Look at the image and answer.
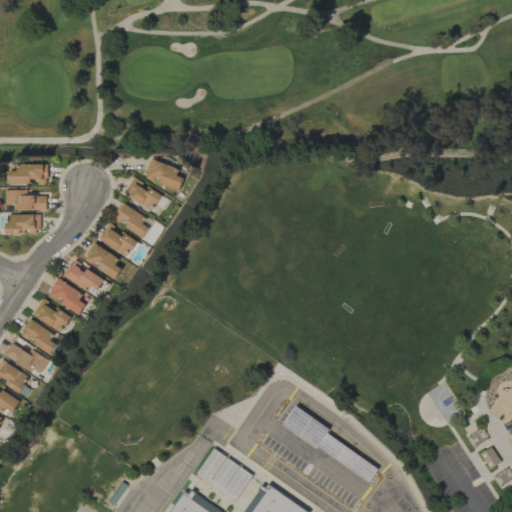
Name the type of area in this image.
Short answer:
sports ground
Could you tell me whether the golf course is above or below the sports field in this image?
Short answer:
above it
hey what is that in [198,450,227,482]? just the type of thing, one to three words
building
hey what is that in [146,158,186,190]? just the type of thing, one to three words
house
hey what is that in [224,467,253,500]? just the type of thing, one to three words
building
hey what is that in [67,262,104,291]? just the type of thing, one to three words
house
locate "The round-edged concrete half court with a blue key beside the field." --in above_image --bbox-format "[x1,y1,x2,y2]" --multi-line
[420,384,462,426]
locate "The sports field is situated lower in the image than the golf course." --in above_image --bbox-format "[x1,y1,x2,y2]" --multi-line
[22,165,512,512]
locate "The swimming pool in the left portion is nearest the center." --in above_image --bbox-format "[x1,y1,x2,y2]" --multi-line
[136,244,148,262]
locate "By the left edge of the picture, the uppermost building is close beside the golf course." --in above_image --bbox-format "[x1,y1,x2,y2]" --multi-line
[6,164,48,185]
